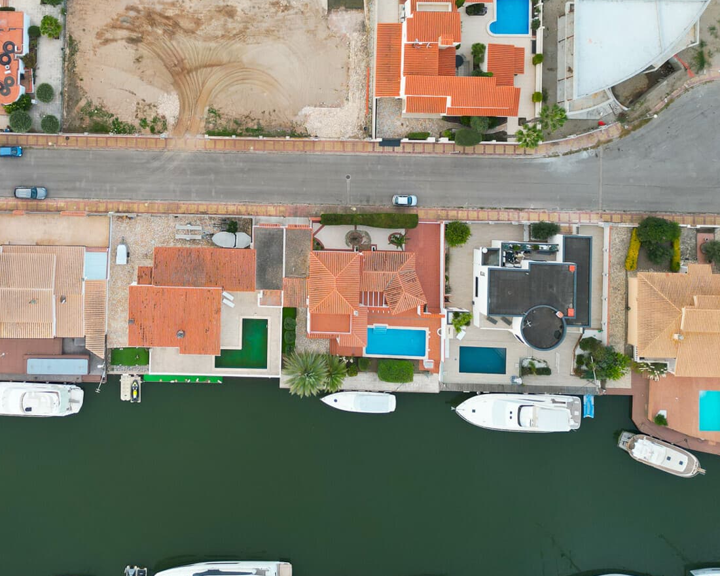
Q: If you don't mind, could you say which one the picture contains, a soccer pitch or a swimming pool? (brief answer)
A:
swimming pool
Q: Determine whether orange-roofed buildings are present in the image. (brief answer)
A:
Yes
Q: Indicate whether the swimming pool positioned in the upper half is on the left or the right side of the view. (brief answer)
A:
right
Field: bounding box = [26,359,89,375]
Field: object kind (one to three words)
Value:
swimming pool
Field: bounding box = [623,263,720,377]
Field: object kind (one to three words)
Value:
house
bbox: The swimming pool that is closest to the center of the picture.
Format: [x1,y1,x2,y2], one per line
[363,323,428,359]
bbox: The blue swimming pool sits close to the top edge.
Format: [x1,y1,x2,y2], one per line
[488,0,530,36]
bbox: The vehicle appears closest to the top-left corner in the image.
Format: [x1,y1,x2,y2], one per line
[0,144,25,159]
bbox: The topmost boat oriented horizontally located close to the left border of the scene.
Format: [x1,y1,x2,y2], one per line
[0,381,86,416]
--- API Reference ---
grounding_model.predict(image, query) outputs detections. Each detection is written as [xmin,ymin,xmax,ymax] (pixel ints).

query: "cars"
[0,144,25,159]
[391,192,416,208]
[15,183,48,200]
